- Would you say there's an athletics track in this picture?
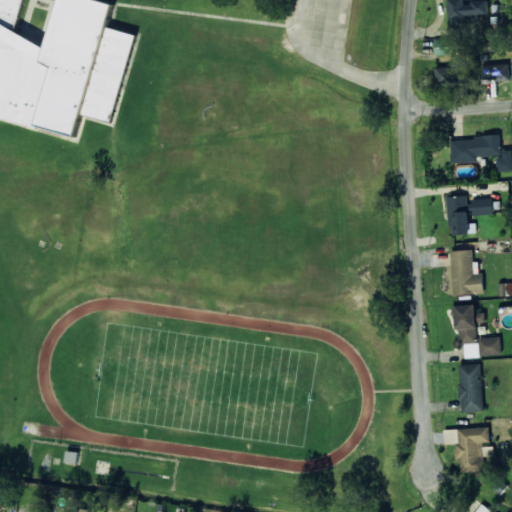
Yes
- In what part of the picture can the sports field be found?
bottom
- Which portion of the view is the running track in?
bottom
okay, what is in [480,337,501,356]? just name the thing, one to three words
building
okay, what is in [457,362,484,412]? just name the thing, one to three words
house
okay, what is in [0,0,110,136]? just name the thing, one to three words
building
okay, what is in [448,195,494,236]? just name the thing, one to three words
house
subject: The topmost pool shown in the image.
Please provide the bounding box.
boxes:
[454,164,479,180]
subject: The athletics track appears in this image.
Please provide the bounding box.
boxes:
[38,297,375,473]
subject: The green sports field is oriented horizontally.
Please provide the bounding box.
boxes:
[96,322,317,447]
